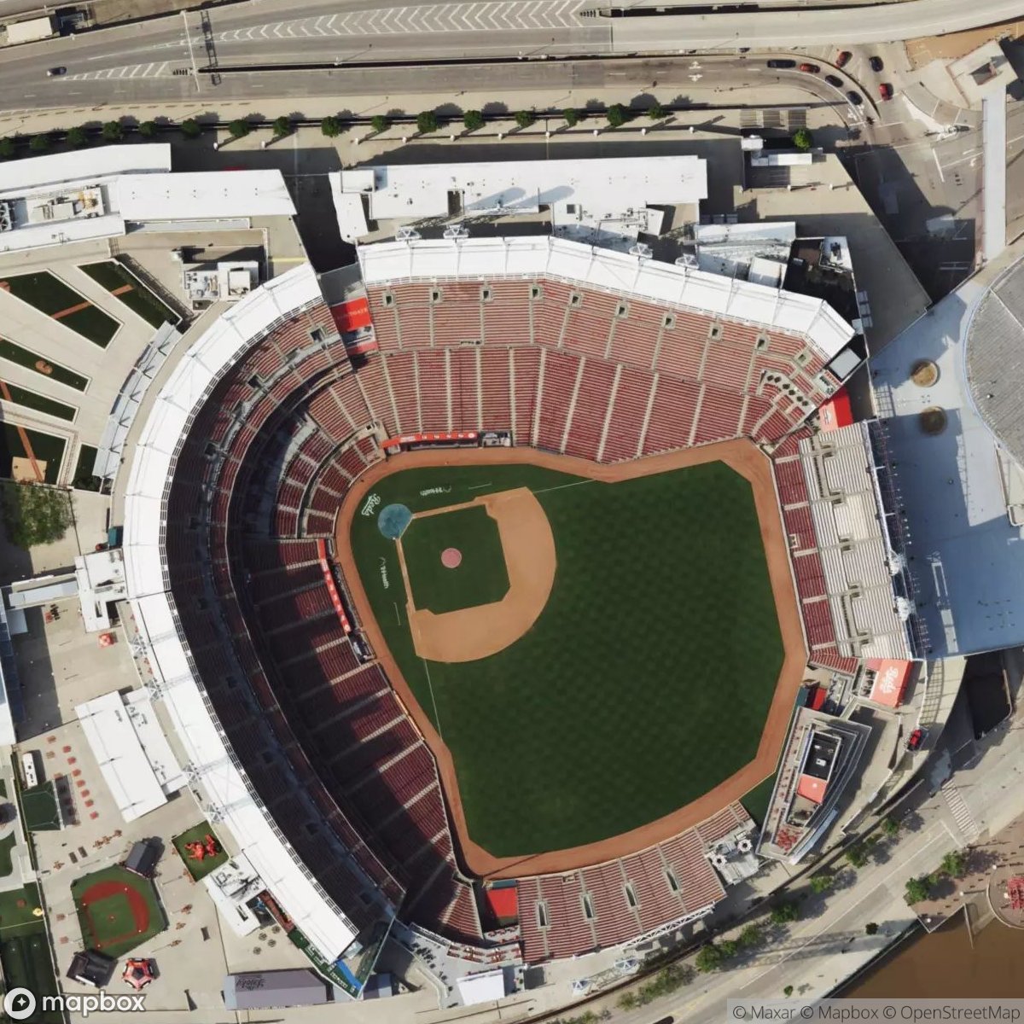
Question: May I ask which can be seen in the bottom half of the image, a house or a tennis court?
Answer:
house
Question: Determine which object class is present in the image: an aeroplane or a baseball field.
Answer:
baseball field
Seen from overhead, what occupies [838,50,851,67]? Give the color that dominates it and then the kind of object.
red vehicle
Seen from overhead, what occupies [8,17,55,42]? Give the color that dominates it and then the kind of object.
white trailer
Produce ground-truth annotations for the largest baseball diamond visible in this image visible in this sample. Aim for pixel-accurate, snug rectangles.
[337,410,832,880]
